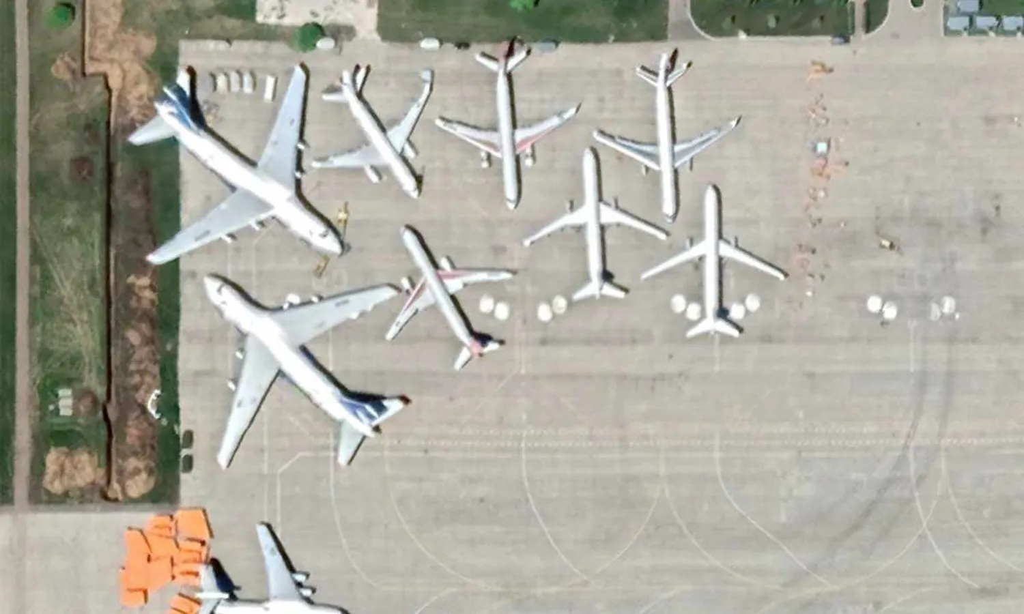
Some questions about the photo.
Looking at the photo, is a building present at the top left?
No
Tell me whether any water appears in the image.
No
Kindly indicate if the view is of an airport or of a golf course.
airport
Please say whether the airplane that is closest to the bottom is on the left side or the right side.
left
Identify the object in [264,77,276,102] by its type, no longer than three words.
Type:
vehicle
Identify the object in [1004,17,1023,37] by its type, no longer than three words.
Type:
building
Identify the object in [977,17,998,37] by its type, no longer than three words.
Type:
building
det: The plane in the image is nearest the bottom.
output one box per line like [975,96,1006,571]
[195,525,347,614]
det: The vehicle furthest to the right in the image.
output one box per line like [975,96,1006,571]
[874,235,901,253]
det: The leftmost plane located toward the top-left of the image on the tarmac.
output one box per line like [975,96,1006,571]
[123,70,343,259]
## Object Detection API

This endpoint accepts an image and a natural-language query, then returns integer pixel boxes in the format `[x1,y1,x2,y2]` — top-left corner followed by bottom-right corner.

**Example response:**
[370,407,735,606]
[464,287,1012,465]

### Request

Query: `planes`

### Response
[522,147,668,298]
[593,58,738,223]
[195,525,347,614]
[386,227,515,371]
[641,184,786,336]
[203,279,411,470]
[434,45,579,209]
[303,68,437,198]
[123,70,343,259]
